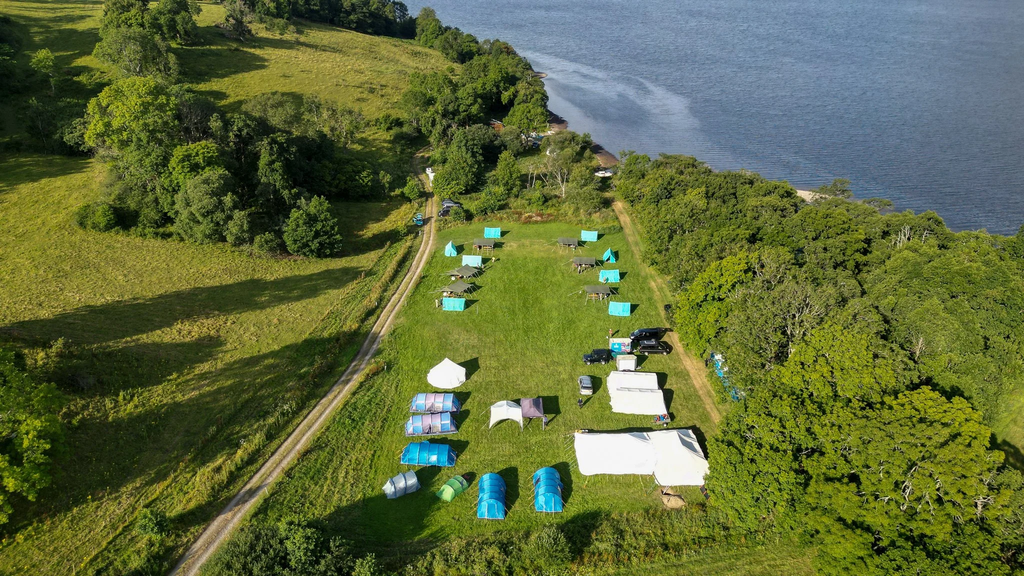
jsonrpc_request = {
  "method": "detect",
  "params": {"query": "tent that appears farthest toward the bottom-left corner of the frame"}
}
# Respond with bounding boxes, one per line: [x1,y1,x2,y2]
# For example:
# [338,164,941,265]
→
[378,466,422,499]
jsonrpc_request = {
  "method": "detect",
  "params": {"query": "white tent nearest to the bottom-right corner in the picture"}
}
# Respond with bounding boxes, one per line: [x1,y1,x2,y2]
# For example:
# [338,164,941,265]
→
[647,430,710,497]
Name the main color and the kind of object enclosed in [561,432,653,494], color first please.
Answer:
white tent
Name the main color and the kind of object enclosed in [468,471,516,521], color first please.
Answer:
blue tent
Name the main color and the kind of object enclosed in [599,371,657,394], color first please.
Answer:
white tent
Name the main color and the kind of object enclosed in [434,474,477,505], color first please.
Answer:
green tent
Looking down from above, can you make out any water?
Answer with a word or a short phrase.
Yes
